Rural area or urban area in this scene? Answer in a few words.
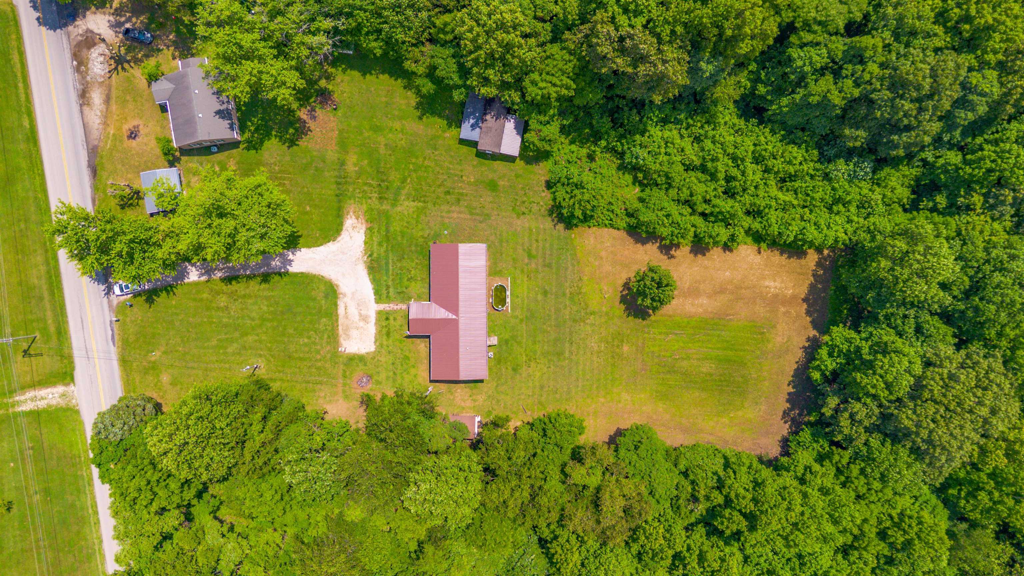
rural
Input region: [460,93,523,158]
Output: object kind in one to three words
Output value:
barn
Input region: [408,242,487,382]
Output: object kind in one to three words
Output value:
house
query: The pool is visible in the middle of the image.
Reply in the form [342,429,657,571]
[490,283,509,311]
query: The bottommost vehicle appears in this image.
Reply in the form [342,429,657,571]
[112,279,145,296]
